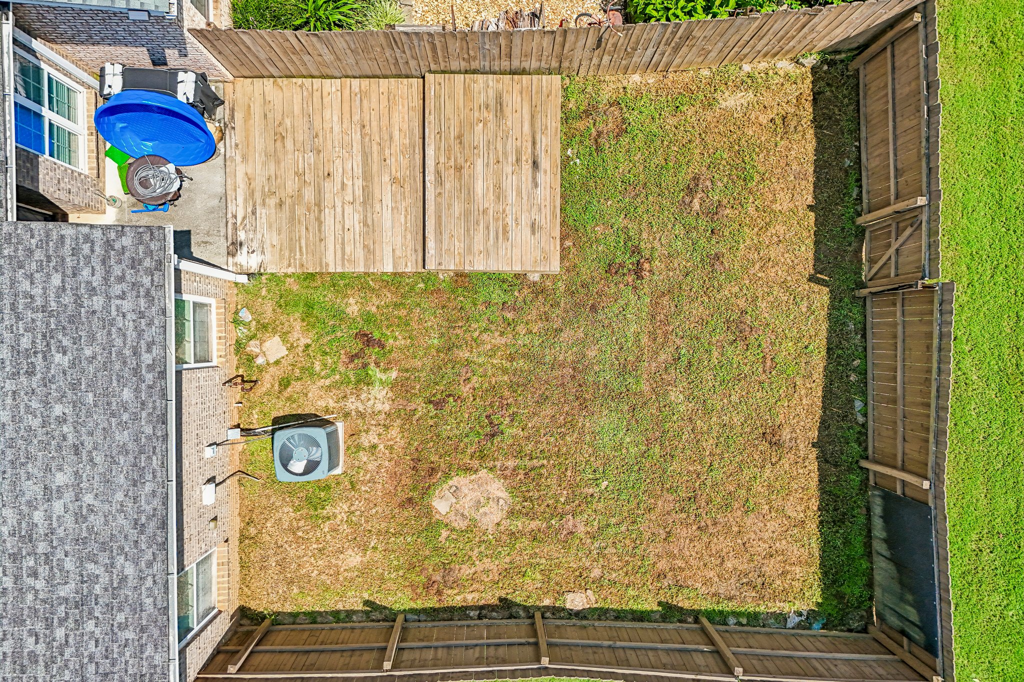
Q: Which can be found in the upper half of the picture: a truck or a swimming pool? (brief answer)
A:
swimming pool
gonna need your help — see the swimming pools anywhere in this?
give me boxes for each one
[93,85,217,167]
